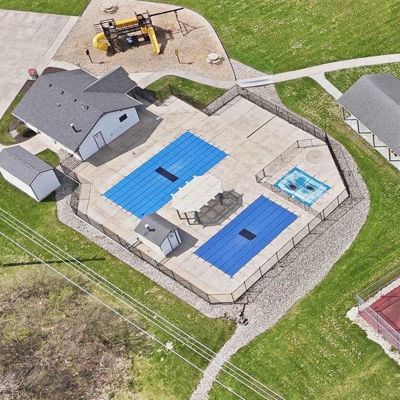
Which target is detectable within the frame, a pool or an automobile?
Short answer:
pool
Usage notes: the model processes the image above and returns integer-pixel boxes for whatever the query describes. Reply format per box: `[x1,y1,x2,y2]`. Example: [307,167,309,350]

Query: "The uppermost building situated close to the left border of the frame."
[12,65,144,161]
